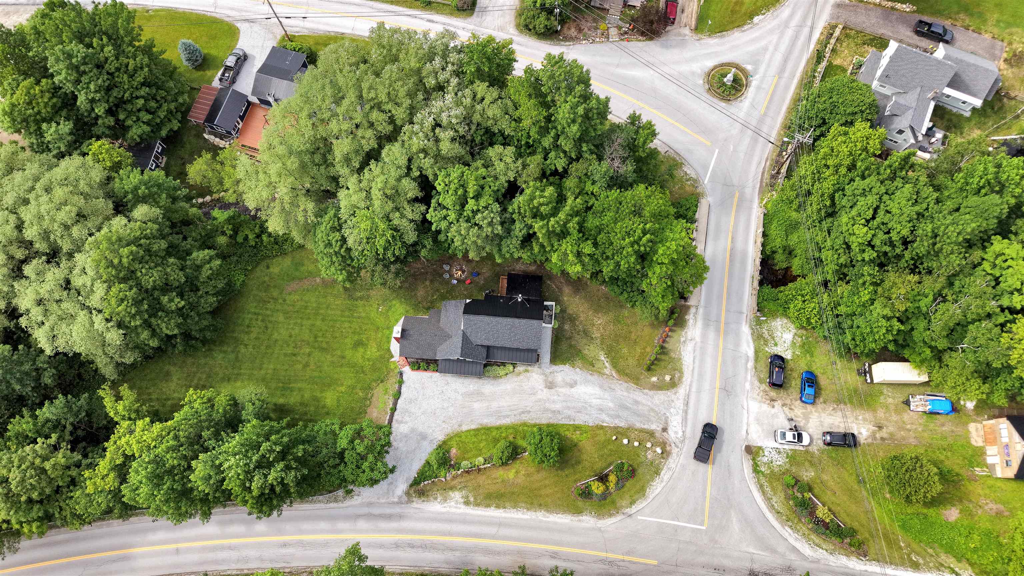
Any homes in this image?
Yes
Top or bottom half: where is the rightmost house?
bottom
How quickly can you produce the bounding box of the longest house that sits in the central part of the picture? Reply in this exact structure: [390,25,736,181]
[393,294,555,377]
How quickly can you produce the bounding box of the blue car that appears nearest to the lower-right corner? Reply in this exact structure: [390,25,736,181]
[798,371,816,405]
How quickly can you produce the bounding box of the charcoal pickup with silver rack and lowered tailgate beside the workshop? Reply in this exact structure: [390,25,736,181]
[220,49,245,85]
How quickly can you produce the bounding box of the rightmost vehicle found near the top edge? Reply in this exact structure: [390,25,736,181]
[913,21,952,43]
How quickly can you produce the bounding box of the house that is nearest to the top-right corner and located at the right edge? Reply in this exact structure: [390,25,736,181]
[858,40,1002,145]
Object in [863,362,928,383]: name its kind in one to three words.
trailer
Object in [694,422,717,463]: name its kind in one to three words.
truck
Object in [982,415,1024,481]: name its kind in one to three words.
house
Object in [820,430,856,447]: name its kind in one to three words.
car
